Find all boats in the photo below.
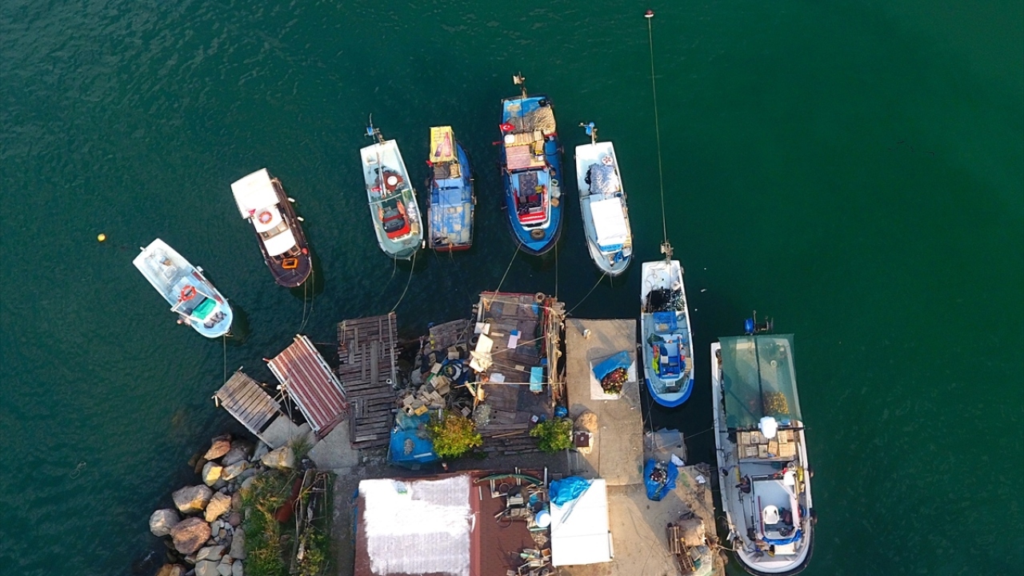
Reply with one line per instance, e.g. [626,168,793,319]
[492,72,564,258]
[575,122,634,276]
[231,168,311,289]
[359,114,424,261]
[639,242,694,410]
[709,310,816,576]
[132,238,235,340]
[426,136,475,251]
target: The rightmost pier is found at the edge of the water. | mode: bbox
[565,319,644,485]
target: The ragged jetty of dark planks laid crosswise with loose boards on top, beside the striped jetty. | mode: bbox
[336,313,399,448]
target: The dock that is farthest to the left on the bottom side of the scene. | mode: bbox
[213,366,283,449]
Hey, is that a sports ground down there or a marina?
marina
